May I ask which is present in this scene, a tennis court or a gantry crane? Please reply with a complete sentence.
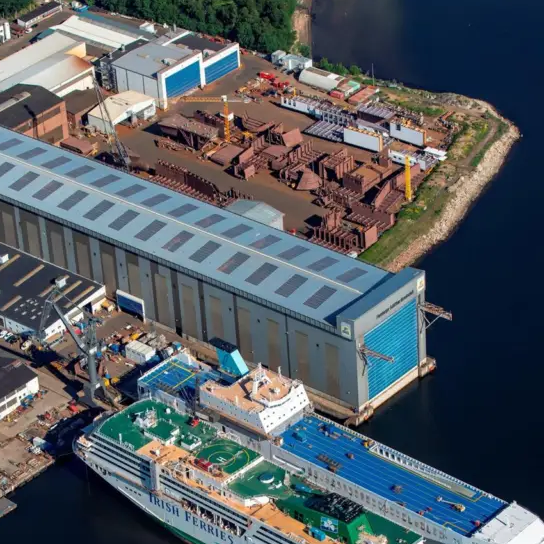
Visible in the photo is a gantry crane.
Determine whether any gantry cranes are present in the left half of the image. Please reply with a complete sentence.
Yes, a gantry crane shows up in the left half of the image.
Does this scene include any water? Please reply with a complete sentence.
Yes, the picture does contain water.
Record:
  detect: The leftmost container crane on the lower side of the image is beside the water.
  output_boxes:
[37,294,110,413]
